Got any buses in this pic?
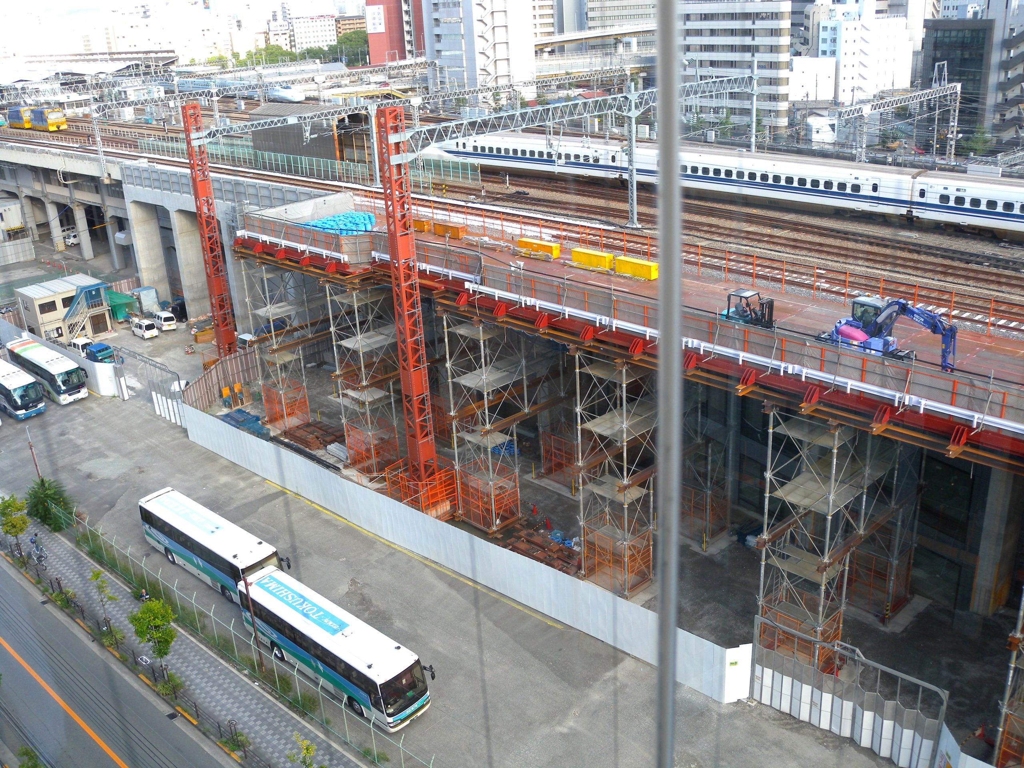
Yes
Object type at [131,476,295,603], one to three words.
bus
